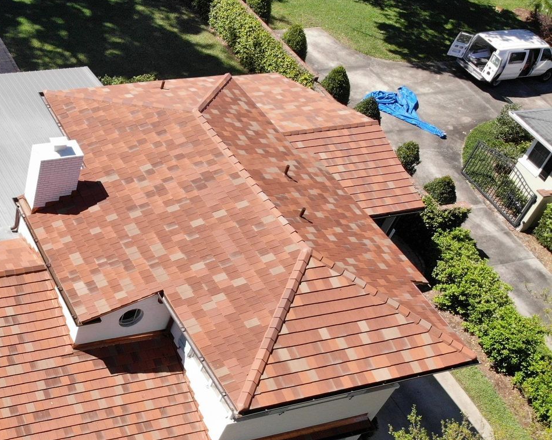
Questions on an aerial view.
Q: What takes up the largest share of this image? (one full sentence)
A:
The scene is dominated by buildings.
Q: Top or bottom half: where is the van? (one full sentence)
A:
The top half of the photo is where the van is.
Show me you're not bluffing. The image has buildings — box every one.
[493,105,552,202]
[0,63,483,440]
